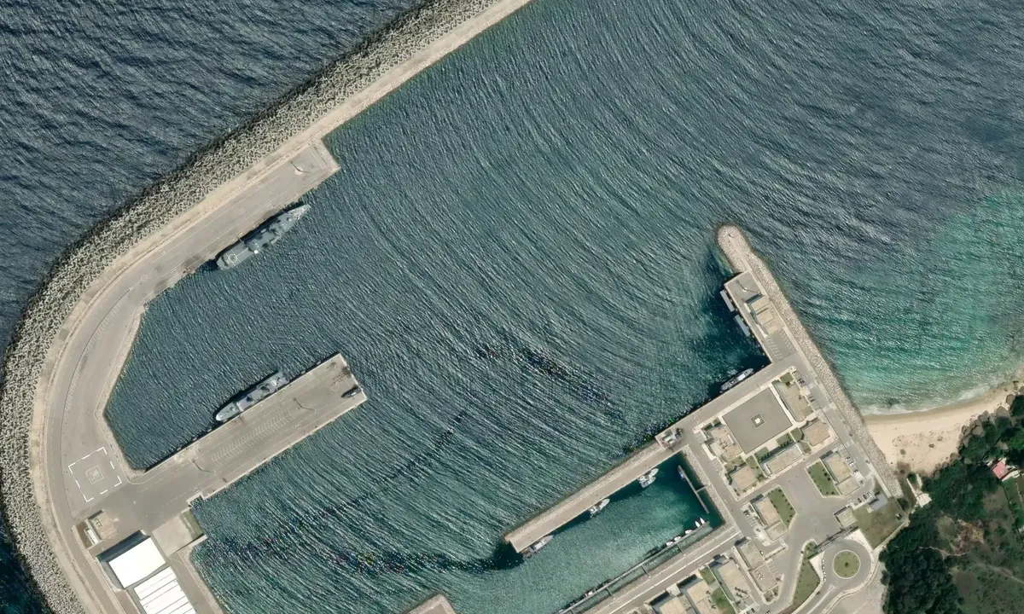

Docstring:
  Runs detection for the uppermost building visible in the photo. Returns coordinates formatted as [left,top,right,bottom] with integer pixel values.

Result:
[743,295,785,338]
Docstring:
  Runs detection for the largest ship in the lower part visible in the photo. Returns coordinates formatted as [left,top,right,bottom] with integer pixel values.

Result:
[215,373,287,419]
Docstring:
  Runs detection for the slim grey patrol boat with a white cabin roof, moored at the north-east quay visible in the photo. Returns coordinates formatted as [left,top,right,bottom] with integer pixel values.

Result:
[720,370,754,391]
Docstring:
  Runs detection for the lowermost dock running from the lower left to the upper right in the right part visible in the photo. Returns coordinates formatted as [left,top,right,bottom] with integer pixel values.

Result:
[555,522,709,614]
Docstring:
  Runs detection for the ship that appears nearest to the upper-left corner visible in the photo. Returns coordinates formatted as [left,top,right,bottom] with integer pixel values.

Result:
[215,206,311,272]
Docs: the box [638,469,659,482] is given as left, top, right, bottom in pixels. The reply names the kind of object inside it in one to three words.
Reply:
boat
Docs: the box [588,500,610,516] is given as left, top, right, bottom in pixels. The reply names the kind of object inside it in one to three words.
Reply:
boat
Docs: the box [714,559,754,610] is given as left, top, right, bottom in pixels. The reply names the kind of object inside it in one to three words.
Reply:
building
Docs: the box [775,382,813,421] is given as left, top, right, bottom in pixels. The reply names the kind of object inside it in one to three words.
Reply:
building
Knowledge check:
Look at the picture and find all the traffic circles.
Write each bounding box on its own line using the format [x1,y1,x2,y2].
[825,542,869,587]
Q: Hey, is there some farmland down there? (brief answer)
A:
No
